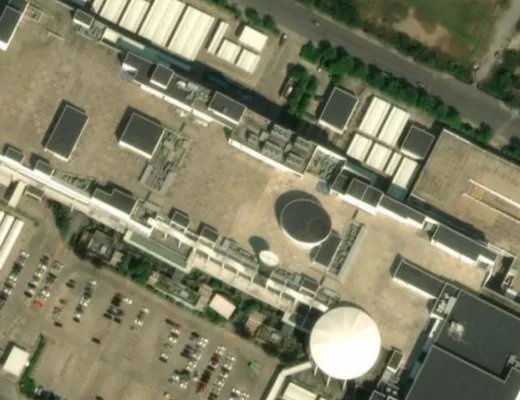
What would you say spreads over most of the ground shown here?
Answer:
buildings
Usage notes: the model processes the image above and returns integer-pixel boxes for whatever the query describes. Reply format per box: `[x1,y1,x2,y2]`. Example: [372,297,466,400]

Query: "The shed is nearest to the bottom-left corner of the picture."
[2,346,30,378]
